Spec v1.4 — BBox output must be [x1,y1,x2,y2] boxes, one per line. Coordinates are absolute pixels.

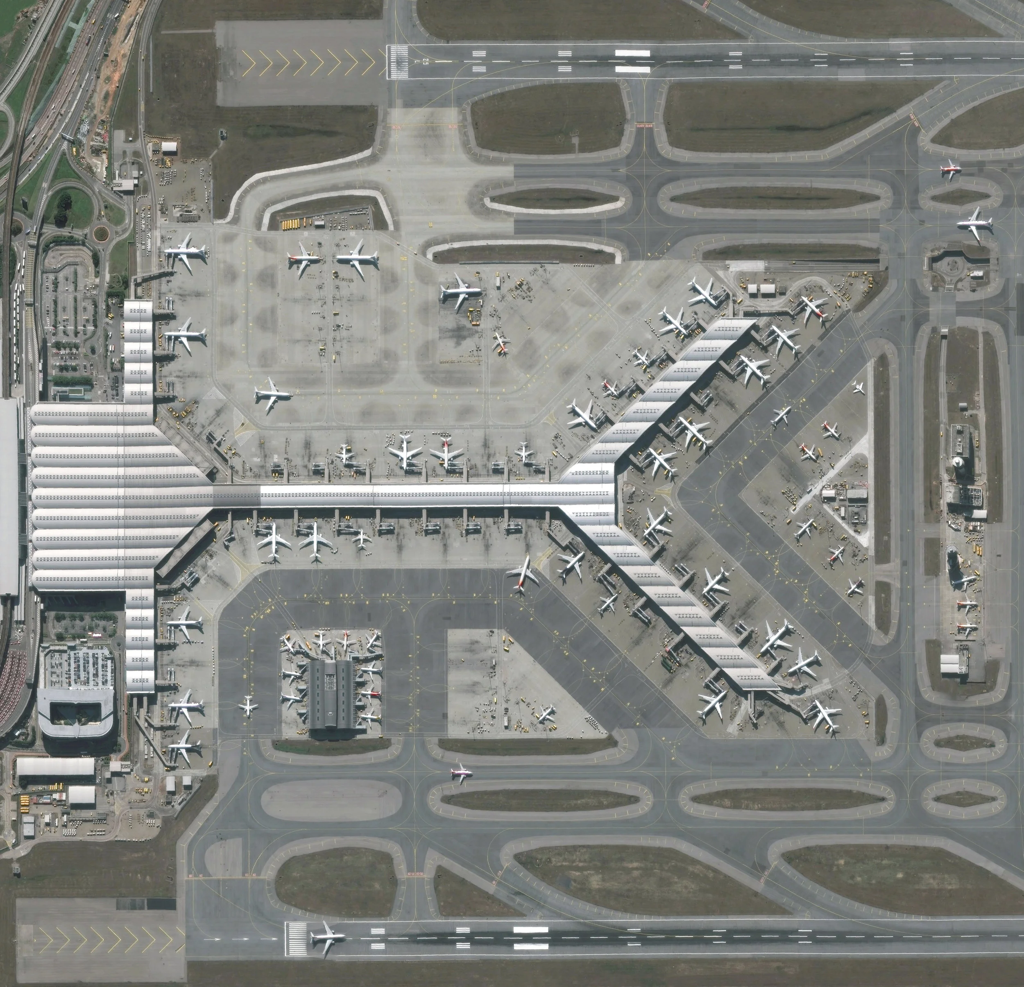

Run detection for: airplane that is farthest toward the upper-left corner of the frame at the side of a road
[164,233,205,269]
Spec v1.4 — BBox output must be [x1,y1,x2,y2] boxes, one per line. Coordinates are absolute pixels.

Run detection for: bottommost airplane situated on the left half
[310,919,345,953]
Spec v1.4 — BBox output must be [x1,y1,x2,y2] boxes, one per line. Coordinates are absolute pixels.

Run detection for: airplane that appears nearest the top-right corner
[940,159,961,178]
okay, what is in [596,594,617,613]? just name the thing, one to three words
airplane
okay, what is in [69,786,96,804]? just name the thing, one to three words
building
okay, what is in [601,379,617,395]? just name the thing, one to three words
airplane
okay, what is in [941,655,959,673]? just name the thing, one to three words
shed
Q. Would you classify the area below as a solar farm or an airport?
airport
